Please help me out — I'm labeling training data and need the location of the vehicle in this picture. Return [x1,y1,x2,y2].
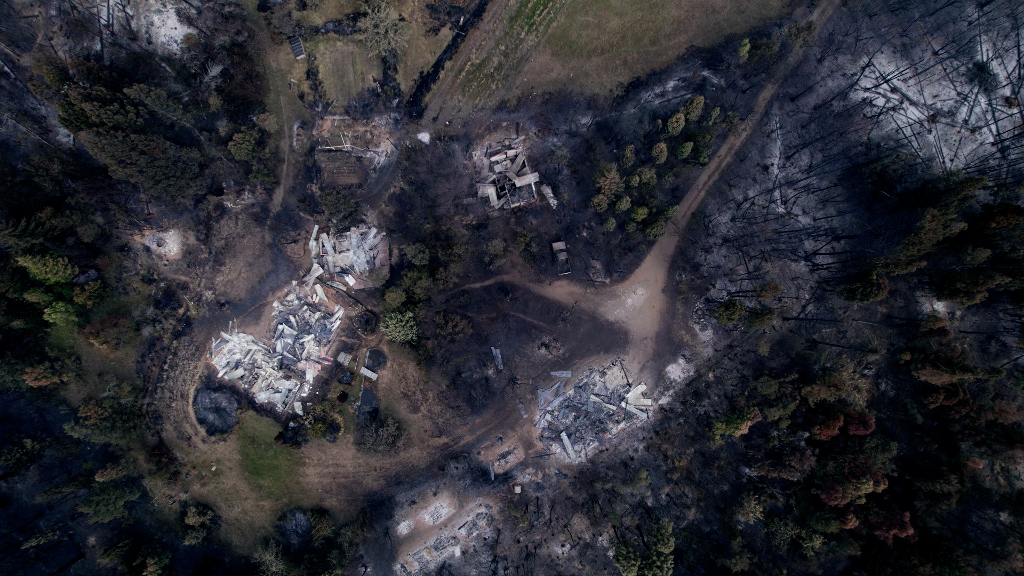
[552,241,569,275]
